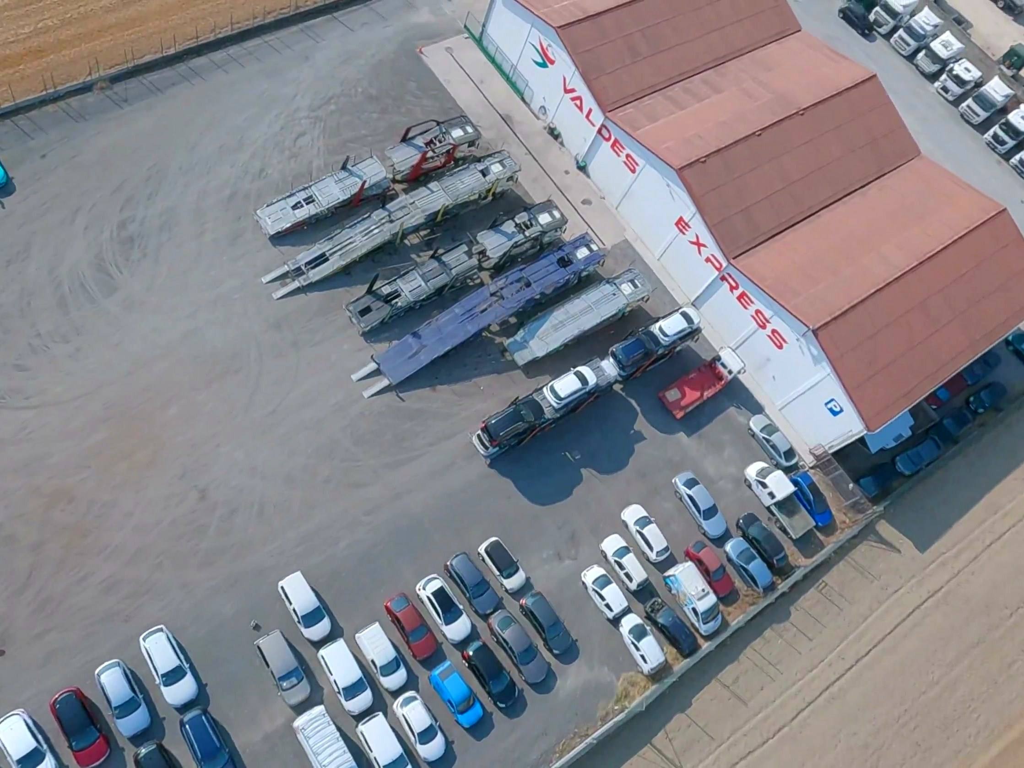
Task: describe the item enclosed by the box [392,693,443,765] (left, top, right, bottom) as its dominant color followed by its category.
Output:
white car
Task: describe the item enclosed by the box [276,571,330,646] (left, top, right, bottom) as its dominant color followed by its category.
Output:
white van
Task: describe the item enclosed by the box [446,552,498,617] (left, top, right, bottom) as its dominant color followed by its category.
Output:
blue car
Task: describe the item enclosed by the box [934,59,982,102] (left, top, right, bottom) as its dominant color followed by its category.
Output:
white truck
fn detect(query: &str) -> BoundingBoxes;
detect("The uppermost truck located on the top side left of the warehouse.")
[378,113,484,187]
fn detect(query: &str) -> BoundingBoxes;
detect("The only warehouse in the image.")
[477,0,1024,462]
